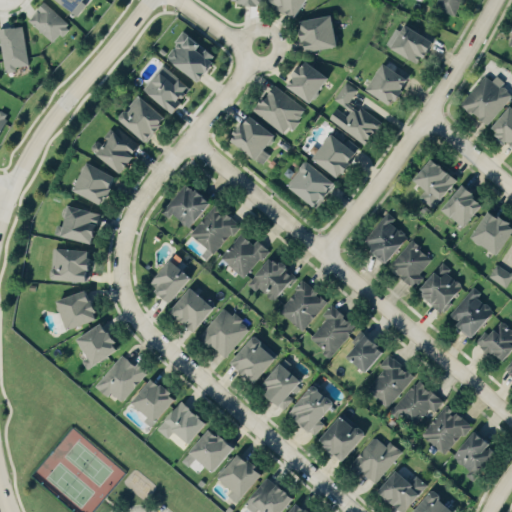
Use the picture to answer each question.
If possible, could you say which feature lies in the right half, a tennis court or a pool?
pool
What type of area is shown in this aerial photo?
residential area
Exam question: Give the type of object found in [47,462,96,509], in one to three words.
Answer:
tennis court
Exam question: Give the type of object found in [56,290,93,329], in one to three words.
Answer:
house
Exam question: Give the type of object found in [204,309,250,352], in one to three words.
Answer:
house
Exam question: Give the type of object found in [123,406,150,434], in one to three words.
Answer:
swimming pool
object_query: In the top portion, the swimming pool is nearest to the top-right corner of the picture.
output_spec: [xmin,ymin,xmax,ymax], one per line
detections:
[303,121,334,155]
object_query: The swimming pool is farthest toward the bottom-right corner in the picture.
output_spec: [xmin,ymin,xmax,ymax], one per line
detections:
[325,383,345,404]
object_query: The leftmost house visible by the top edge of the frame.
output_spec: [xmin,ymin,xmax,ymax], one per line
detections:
[0,24,30,70]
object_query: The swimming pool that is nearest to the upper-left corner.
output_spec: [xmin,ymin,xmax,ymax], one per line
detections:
[140,59,162,84]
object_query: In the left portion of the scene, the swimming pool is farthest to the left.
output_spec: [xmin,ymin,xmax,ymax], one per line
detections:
[44,310,66,337]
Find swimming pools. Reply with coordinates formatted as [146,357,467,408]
[291,356,310,378]
[140,59,162,84]
[212,485,238,508]
[186,238,207,256]
[325,383,345,404]
[303,121,334,155]
[155,242,176,268]
[123,406,150,434]
[44,310,66,337]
